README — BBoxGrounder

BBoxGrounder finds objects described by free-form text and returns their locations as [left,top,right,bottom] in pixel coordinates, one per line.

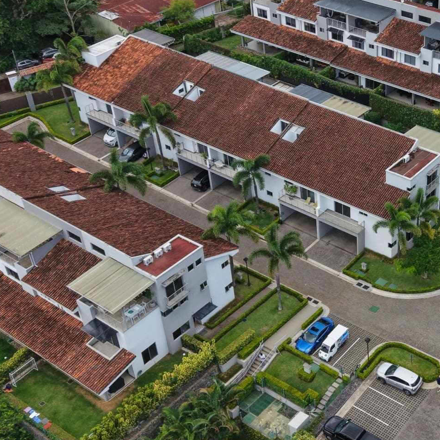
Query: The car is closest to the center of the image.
[183,167,209,190]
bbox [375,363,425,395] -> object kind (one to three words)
car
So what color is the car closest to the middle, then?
black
